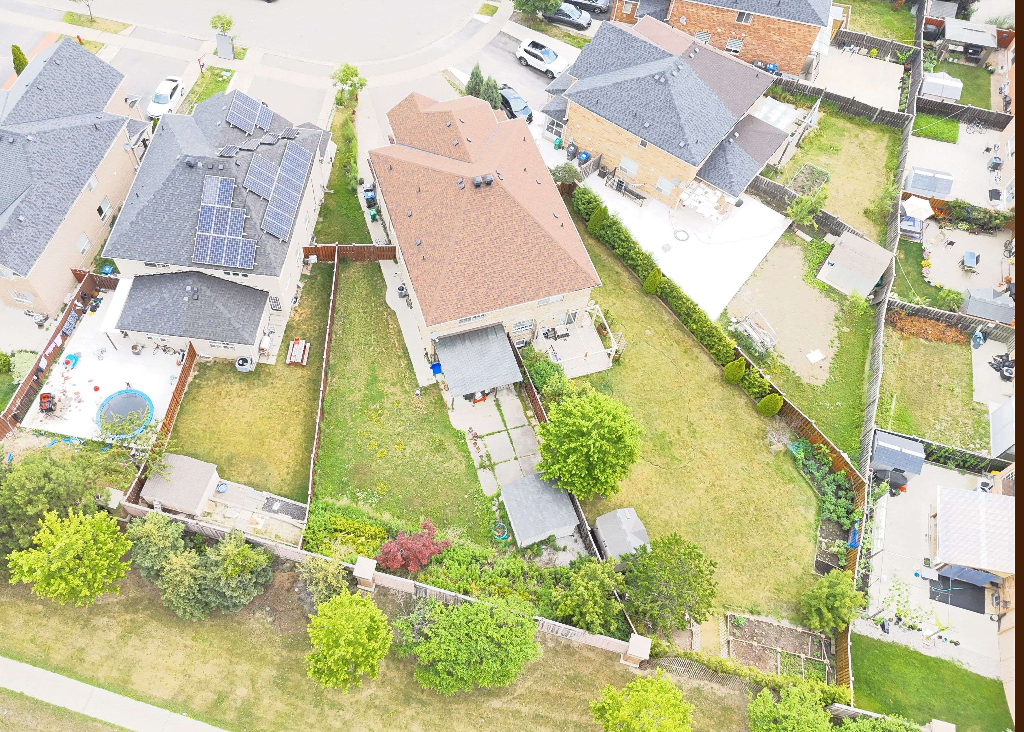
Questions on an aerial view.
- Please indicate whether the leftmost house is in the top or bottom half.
top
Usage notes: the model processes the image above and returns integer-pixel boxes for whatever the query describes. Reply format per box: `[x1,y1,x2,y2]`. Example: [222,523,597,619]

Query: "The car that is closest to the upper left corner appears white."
[144,75,185,118]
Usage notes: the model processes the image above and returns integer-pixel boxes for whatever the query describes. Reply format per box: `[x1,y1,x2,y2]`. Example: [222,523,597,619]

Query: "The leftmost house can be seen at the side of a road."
[0,37,153,316]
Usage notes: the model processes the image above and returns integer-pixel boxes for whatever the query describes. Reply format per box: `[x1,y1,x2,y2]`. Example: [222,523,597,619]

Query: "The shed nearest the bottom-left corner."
[140,453,221,520]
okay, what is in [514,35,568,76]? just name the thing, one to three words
car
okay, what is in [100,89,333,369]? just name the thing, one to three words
house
